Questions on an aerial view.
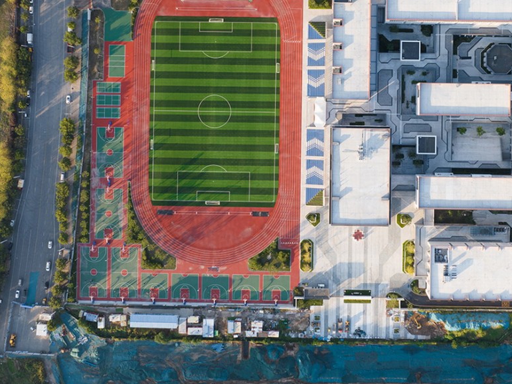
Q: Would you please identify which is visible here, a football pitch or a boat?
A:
football pitch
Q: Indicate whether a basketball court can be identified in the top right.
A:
No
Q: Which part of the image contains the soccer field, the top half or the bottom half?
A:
top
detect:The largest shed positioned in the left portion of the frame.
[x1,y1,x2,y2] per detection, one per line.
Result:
[130,313,179,328]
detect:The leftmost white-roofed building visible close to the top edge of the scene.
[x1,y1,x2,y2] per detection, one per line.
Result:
[332,0,372,101]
